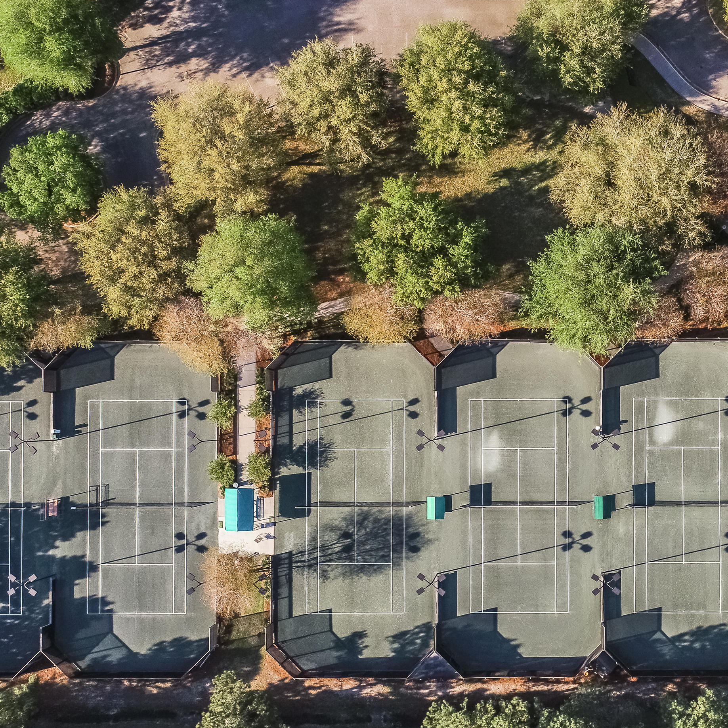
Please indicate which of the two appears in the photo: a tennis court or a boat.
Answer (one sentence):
The one in the frame is a tennis court.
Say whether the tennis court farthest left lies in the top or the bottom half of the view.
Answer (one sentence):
You can find the tennis court farthest left in the bottom half.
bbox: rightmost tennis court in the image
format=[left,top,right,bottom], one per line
[601,343,728,672]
